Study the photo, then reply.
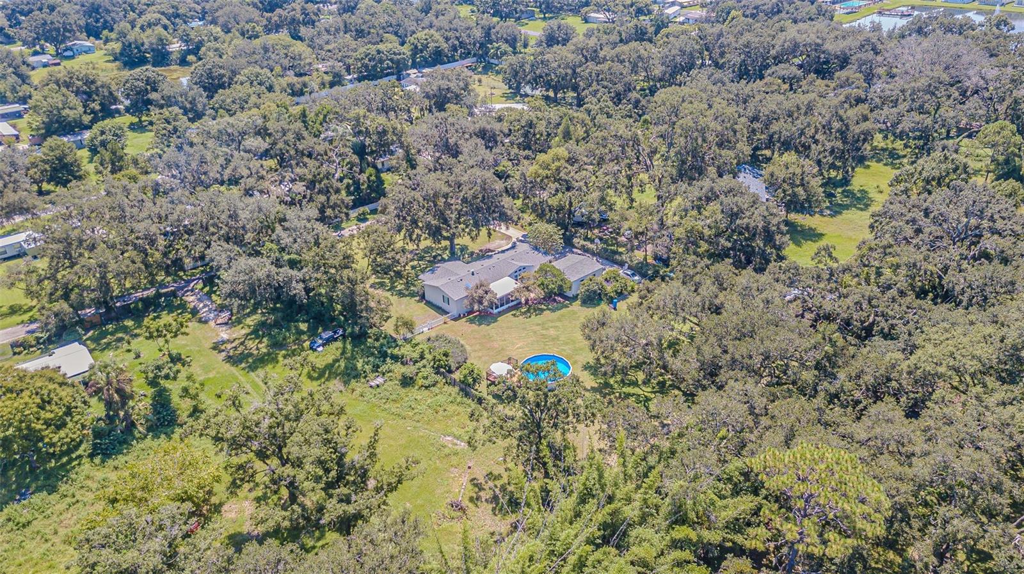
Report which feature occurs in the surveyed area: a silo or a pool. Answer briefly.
pool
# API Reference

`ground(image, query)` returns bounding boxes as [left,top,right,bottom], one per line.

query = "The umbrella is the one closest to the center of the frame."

[487,360,514,381]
